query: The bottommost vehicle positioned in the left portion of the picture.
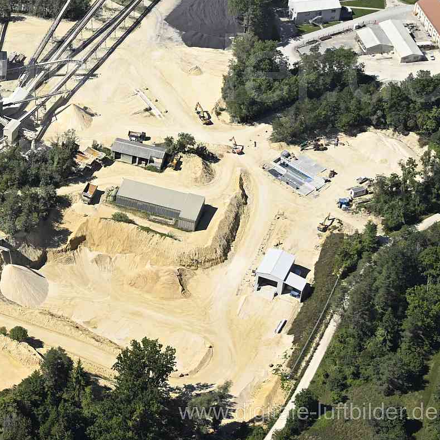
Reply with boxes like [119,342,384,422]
[83,182,96,201]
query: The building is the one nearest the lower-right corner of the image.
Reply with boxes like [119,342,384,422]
[282,272,310,303]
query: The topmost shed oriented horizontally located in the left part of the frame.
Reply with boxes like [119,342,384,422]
[110,137,173,175]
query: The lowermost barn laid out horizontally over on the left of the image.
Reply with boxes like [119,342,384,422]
[114,175,207,229]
